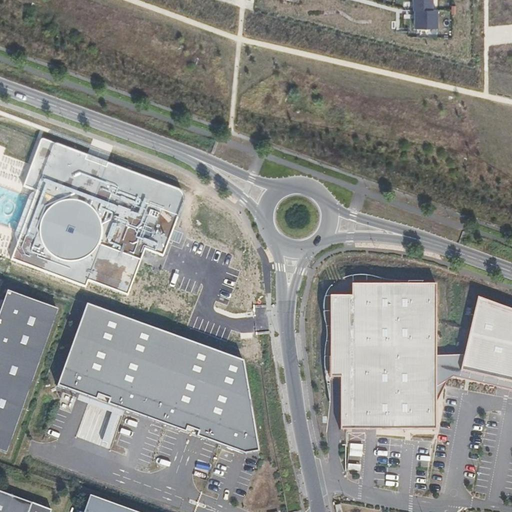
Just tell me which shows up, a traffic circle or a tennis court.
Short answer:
traffic circle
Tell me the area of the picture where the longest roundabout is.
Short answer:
center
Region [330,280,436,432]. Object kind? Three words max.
building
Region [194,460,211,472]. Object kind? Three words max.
vehicle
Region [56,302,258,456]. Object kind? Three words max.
building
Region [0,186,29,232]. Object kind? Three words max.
swimming pool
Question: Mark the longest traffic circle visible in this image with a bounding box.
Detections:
[210,158,384,268]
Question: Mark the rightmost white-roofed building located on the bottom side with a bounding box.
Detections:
[453,295,512,390]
